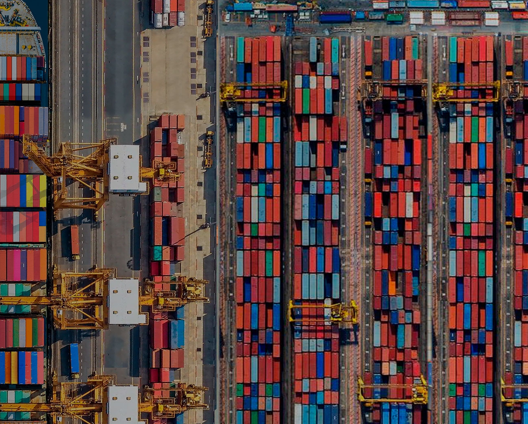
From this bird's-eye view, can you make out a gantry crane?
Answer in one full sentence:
Yes, looking at the shot, I can spot a gantry crane.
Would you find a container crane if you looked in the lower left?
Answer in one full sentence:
Yes, a container crane can be seen in the lower left.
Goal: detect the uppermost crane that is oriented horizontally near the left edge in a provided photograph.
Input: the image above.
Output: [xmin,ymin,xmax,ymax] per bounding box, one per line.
[18,131,182,199]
